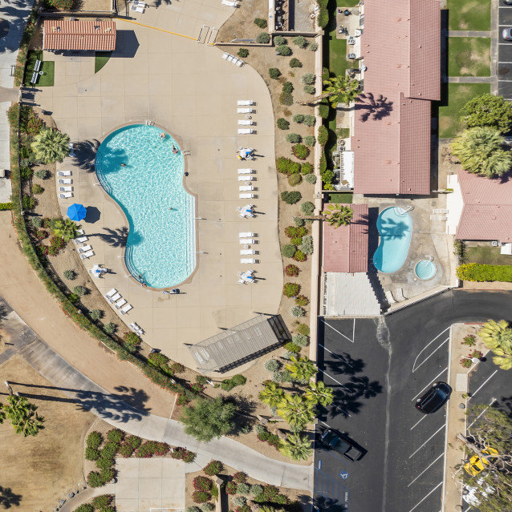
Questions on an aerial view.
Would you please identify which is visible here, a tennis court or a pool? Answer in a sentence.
It is a pool that can be seen here.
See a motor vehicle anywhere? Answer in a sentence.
Yes, there's a motor vehicle down there.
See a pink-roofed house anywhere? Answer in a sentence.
Yes, a pink-roofed house appears in the view.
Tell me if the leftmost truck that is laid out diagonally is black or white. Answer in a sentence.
The leftmost truck that is laid out diagonally is black.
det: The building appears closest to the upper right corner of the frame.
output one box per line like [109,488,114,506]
[356,0,441,100]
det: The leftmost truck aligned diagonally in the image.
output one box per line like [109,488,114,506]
[318,427,368,468]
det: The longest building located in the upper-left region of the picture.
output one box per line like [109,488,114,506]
[43,19,116,54]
